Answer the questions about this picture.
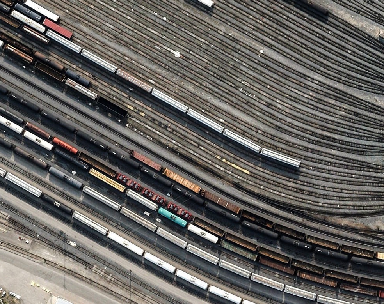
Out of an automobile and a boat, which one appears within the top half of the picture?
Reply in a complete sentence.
Visible within the top half of the picture is a boat.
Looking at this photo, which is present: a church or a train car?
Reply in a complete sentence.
It is a train car that can be seen here.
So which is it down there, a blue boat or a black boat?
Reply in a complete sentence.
Visible in the photo is a black boat.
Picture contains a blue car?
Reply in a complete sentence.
No, there is no blue car in the image.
